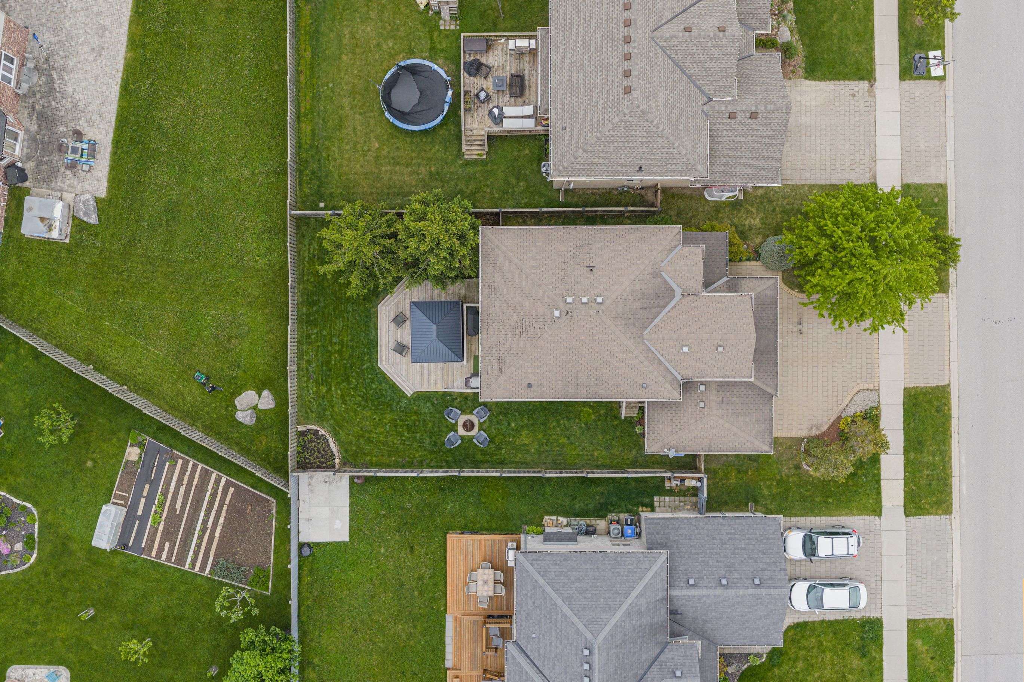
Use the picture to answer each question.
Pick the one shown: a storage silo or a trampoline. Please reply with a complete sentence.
The one in the frame is a trampoline.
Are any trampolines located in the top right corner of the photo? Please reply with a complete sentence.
No, I see no trampoline in the top right corner of the photo.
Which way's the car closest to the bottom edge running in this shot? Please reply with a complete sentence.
The car closest to the bottom edge is oriented from left to right.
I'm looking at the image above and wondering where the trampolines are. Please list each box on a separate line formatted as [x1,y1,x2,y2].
[370,58,452,130]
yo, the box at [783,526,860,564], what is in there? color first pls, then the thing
white car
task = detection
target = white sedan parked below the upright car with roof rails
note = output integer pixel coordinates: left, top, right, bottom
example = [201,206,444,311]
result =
[788,576,866,616]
